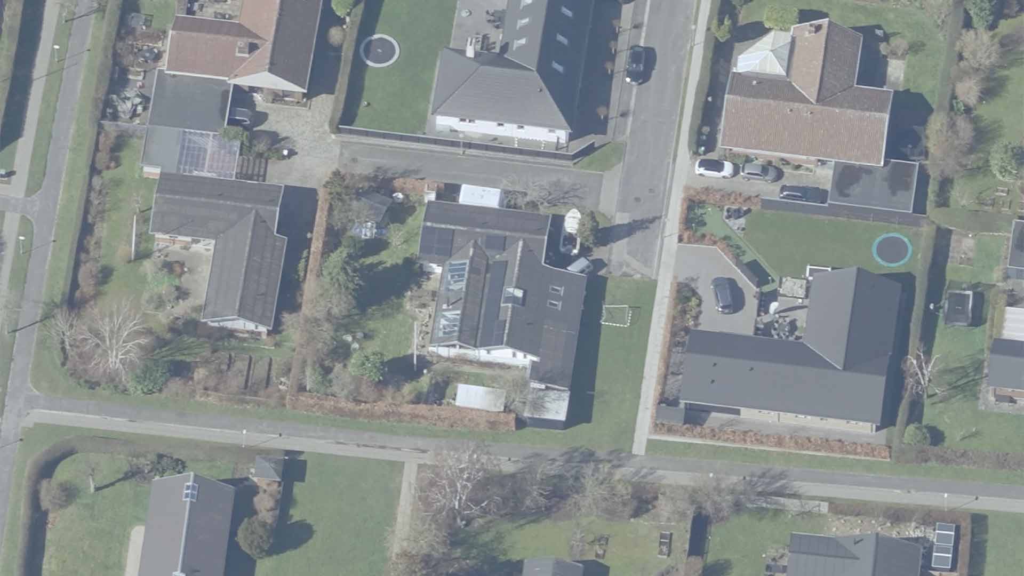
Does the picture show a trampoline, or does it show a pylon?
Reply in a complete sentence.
There is a trampoline in the scene.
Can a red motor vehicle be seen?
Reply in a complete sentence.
No, the frame has no red motor vehicle in it.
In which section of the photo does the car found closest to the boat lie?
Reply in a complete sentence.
You can find the car found closest to the boat in the center area of the picture.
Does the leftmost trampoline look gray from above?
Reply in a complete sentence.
Yes, the leftmost trampoline is indeed gray.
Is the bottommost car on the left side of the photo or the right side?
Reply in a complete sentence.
You can find the bottommost car on the right side of the picture.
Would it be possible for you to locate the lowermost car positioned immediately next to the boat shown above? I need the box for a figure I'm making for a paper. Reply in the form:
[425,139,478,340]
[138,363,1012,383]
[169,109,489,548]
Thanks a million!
[562,253,596,273]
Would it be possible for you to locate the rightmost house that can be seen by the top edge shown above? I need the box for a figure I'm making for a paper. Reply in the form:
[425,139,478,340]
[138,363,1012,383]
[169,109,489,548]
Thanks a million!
[720,18,893,170]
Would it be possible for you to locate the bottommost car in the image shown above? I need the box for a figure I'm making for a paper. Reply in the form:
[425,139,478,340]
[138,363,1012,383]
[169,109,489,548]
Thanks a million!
[712,279,736,315]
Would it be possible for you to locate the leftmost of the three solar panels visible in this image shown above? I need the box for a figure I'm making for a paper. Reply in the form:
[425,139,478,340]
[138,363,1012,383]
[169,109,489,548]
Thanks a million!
[421,226,453,257]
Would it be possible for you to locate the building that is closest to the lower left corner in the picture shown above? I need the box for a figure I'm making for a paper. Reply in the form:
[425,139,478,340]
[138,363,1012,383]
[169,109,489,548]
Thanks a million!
[141,473,235,576]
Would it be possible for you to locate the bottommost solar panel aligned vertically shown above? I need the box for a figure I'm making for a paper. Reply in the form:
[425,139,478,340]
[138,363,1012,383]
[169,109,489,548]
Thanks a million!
[493,320,506,344]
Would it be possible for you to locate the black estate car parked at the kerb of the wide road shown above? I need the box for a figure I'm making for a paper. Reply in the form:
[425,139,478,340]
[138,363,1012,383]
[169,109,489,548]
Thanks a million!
[627,46,648,83]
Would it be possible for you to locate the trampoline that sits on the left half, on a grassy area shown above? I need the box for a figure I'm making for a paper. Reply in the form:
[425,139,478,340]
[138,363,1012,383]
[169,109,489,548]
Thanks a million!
[360,35,399,67]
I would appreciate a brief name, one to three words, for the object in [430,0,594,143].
house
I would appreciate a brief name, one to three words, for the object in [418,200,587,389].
house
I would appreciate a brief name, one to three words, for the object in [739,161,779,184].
car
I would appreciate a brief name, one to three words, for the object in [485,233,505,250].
solar panel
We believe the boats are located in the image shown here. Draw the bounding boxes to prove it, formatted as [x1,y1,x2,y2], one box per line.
[561,208,580,256]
